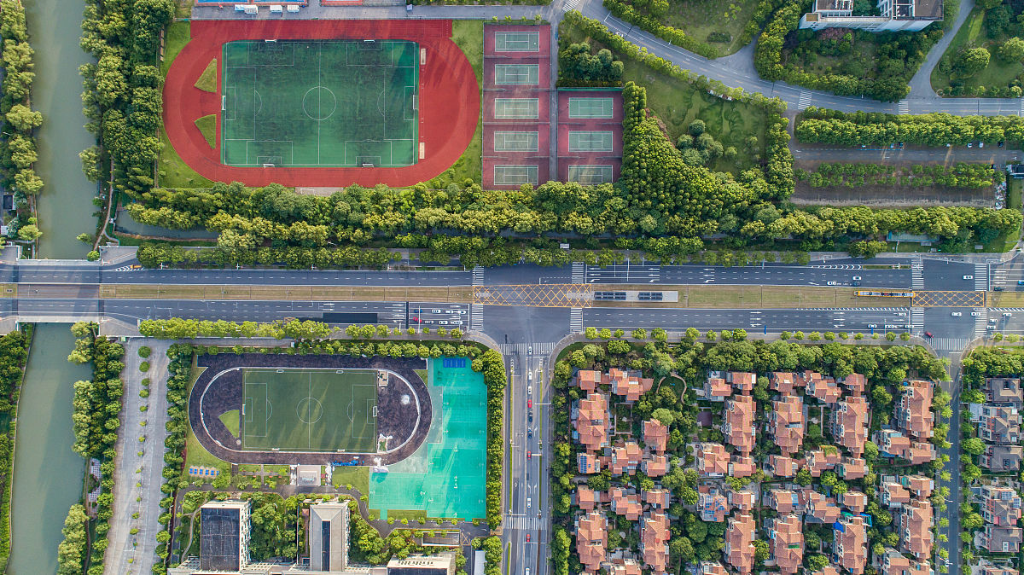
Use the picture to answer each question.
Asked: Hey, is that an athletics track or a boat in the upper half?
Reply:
athletics track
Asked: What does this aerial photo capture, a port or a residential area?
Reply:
residential area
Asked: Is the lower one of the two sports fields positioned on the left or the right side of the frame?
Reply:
left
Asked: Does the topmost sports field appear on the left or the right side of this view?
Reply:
left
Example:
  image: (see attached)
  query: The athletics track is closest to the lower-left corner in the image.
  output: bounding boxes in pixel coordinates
[189,354,432,466]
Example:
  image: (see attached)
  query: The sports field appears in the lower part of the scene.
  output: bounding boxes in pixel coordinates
[242,369,376,452]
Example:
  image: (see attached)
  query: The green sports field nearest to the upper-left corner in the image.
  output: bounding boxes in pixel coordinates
[222,40,419,167]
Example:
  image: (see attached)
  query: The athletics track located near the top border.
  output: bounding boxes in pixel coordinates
[162,20,479,187]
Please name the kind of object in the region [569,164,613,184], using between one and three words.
tennis court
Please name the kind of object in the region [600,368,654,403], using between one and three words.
house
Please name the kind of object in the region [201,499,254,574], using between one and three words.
building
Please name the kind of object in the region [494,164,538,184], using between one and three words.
tennis court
